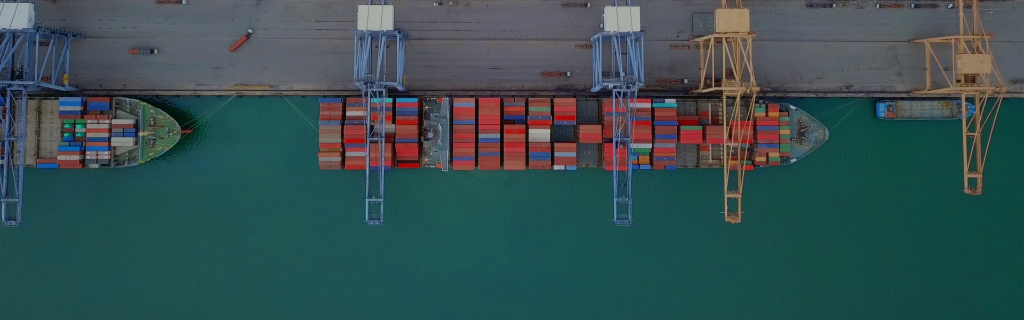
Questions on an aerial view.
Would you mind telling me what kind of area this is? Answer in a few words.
port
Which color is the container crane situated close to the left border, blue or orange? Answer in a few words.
blue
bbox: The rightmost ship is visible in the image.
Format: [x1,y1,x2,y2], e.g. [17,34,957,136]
[876,100,975,119]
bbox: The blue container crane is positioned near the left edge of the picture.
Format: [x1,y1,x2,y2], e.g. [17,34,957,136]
[0,0,89,230]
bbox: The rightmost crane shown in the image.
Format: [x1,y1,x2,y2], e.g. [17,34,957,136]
[908,0,1007,195]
